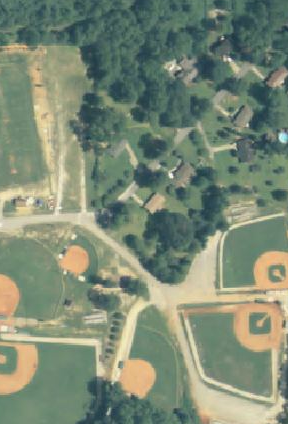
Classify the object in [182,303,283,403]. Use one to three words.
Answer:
baseball field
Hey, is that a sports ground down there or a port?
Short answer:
sports ground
